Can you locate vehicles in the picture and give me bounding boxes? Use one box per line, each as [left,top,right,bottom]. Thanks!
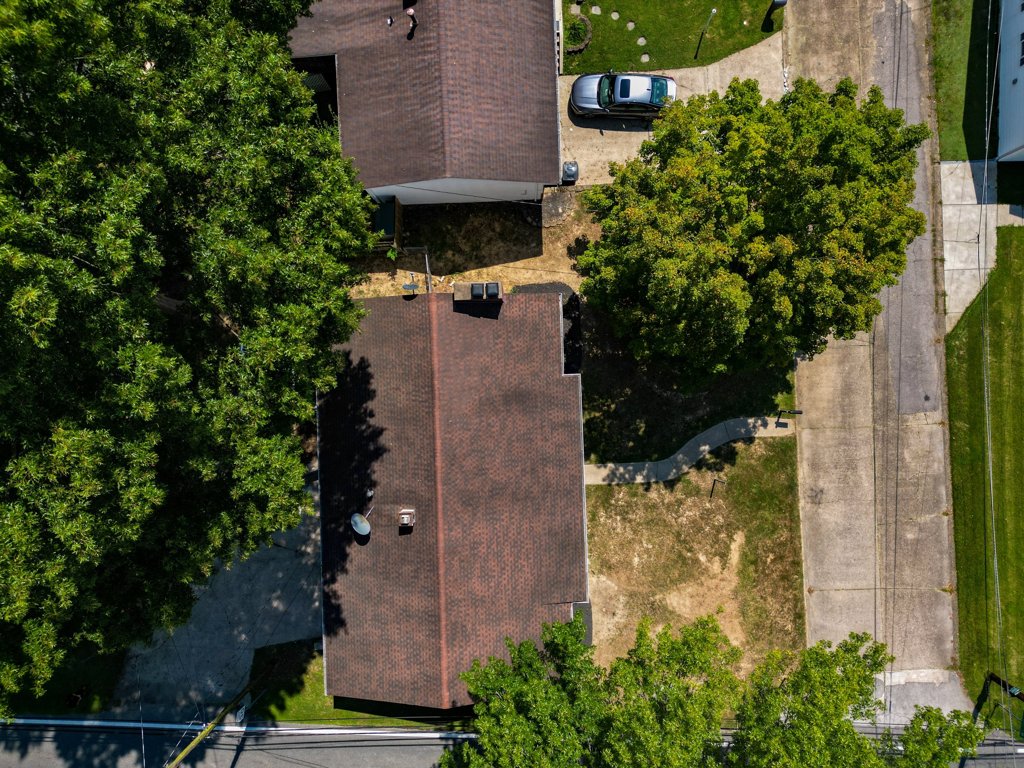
[570,65,678,122]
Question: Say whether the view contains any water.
No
